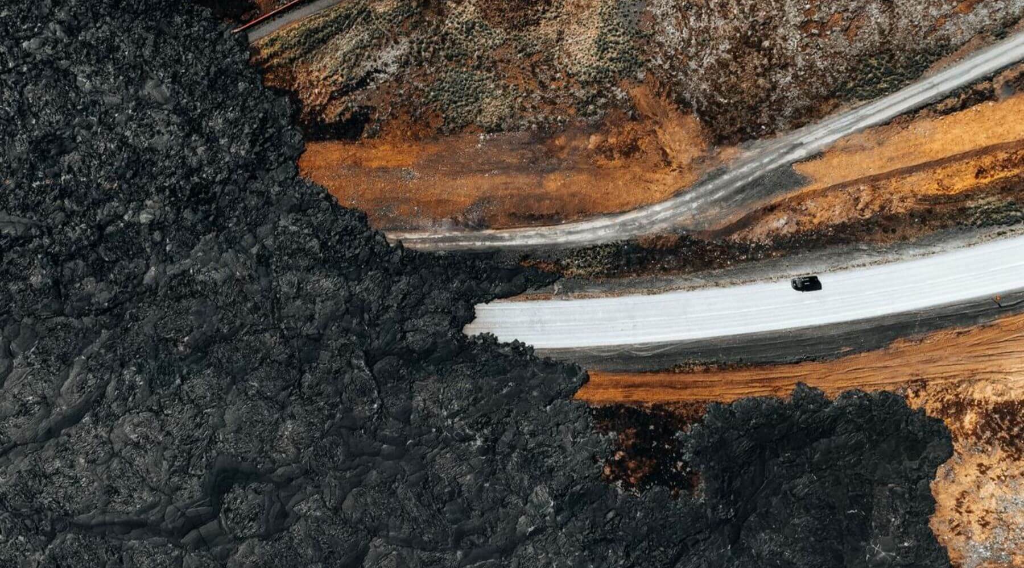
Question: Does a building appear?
No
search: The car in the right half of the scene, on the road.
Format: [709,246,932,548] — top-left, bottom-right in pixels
[793,276,822,290]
